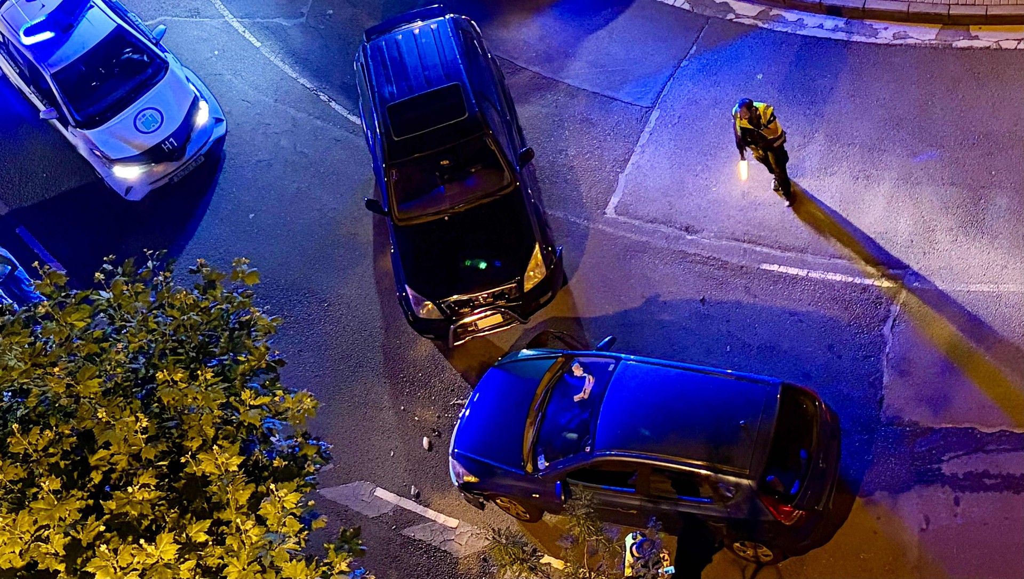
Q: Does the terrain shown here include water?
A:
No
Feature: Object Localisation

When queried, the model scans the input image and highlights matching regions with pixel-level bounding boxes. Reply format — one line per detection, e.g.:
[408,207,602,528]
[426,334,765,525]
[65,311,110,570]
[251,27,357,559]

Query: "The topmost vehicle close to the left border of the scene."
[0,0,227,202]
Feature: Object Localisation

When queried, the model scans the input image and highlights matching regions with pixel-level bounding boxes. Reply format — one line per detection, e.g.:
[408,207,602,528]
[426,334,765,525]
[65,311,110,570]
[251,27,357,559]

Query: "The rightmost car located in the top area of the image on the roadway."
[358,0,561,353]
